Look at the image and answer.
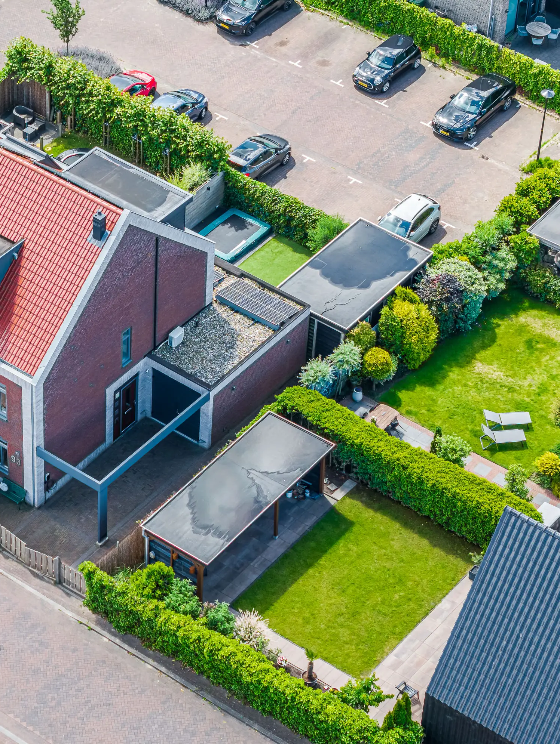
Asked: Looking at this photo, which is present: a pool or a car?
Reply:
car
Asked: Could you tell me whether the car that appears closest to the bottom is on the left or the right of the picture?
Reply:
right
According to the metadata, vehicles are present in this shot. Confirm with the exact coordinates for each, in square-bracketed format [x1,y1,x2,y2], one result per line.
[214,0,294,39]
[99,68,156,103]
[227,136,292,191]
[149,90,208,127]
[432,73,519,146]
[351,33,423,94]
[370,194,443,243]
